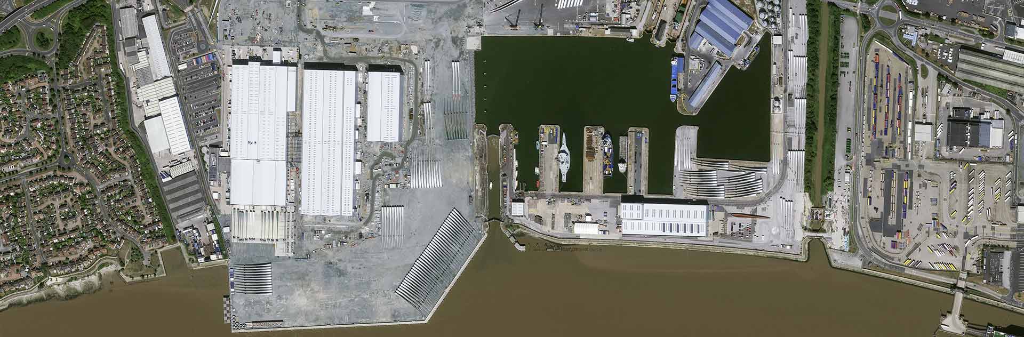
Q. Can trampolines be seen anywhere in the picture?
No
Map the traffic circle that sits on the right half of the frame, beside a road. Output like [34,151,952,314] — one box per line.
[875,0,902,31]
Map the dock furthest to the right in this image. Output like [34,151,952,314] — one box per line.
[934,271,990,337]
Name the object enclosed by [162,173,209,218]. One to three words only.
building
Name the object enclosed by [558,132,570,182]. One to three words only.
ship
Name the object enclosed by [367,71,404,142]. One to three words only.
building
